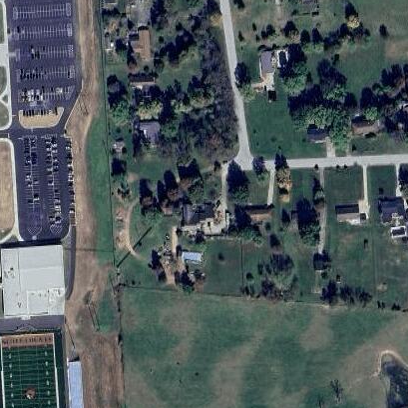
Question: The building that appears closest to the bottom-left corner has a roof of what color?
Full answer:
The color of the roof on the building that appears closest to the bottom-left corner is white.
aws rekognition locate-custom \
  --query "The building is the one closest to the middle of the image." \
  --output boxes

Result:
[184,205,216,230]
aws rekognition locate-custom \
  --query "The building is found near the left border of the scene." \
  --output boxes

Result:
[0,246,63,320]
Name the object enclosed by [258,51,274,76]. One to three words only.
house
